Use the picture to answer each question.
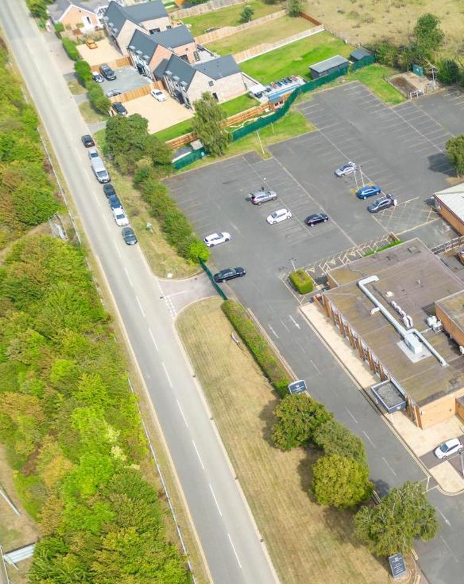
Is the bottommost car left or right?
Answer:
right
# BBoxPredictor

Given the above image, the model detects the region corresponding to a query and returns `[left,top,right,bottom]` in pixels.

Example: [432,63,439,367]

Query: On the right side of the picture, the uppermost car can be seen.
[335,161,357,176]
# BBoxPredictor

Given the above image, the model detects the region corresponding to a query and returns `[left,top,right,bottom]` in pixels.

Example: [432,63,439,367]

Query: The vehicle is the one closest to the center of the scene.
[214,267,247,283]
